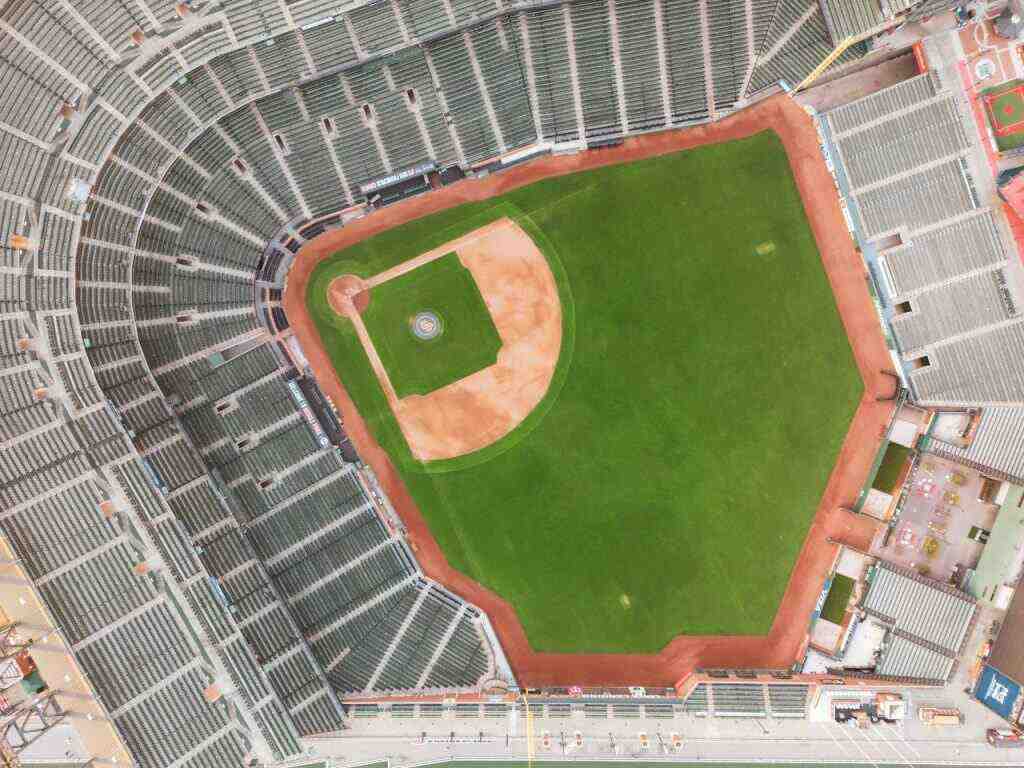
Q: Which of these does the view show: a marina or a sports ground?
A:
sports ground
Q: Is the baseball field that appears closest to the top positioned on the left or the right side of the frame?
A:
right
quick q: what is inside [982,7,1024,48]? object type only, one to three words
building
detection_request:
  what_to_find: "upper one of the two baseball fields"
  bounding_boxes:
[982,76,1024,153]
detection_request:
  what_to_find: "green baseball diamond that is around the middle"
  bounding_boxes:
[284,94,904,687]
